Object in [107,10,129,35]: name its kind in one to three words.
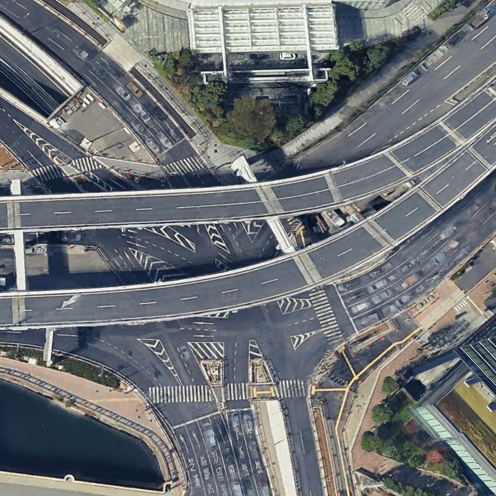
truck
